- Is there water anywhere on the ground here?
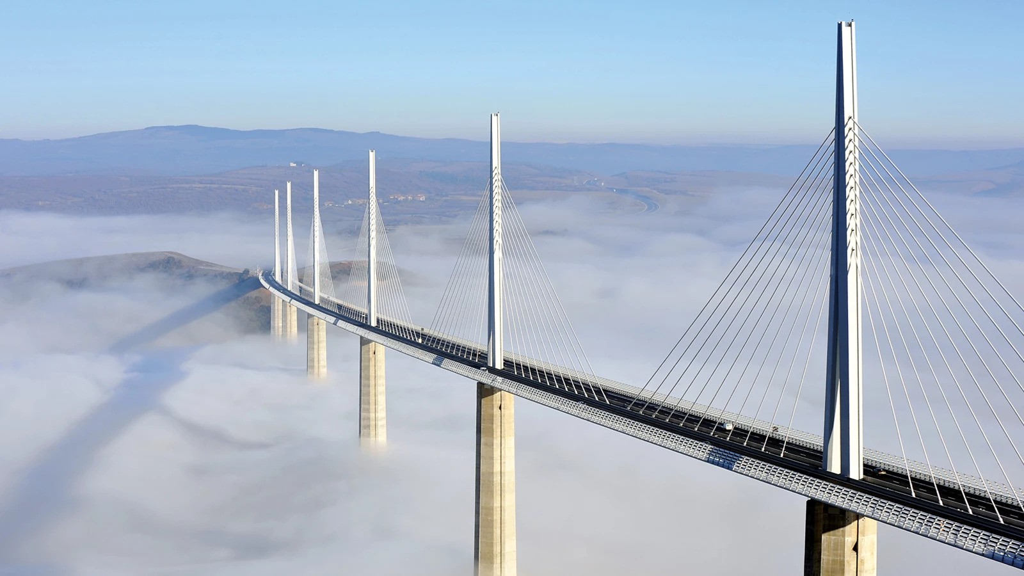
Yes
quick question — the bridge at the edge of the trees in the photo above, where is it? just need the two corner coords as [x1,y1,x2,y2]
[259,17,1024,576]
